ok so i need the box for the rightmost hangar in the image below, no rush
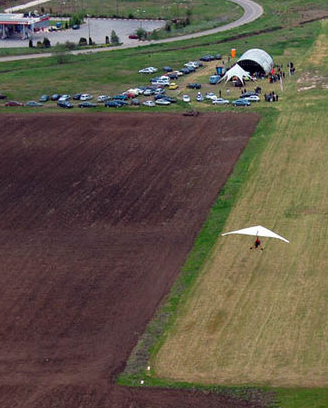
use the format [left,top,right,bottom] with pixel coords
[237,49,273,73]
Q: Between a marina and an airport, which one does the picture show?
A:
airport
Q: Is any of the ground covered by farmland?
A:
Yes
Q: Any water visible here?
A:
No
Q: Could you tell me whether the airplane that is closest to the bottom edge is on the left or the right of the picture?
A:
right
